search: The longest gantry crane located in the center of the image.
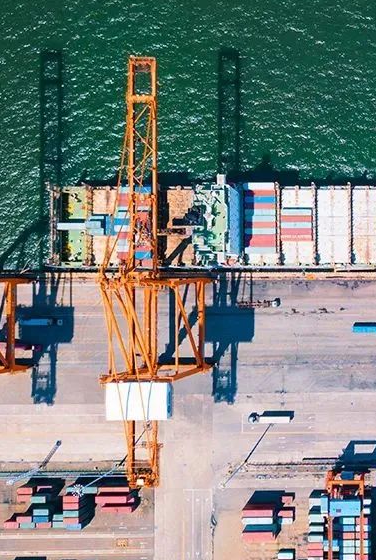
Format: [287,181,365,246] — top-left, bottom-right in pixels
[94,56,221,488]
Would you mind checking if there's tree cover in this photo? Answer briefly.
No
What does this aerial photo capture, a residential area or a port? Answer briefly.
port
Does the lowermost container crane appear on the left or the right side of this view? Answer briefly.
right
